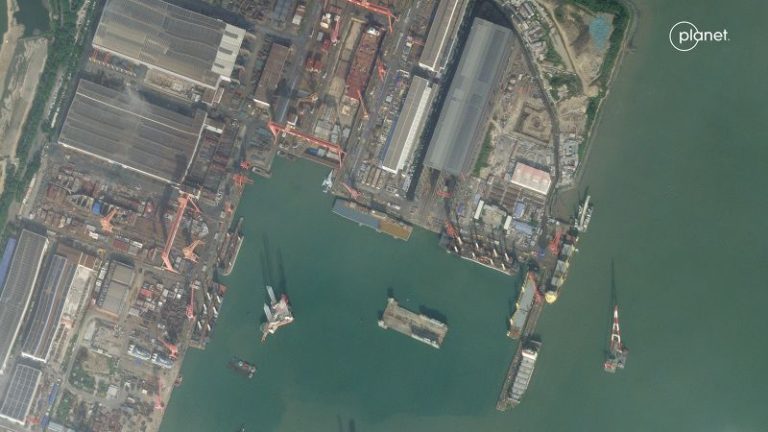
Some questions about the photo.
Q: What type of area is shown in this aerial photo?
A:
port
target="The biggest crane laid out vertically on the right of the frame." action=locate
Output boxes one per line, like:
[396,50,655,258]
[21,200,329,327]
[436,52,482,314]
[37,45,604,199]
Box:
[602,304,629,376]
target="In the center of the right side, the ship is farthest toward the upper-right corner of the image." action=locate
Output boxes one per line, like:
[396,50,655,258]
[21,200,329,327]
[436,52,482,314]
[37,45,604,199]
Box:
[574,195,593,230]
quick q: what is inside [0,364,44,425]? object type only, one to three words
shed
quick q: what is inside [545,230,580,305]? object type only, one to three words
ship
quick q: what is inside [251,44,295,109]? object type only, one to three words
shed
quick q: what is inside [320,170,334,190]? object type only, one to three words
boat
